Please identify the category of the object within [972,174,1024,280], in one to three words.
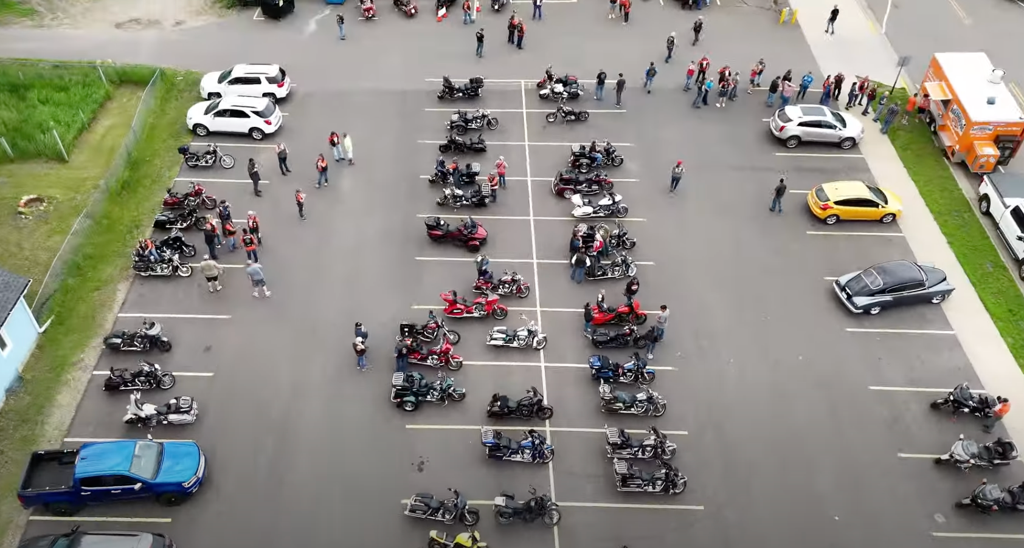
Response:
truck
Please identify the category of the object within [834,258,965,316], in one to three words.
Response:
car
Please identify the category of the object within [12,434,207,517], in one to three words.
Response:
truck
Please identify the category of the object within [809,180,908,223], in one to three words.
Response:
car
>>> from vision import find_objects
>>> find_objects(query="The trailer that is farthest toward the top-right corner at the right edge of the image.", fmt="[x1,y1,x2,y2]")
[917,51,1024,174]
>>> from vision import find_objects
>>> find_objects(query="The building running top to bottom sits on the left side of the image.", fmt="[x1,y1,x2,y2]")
[0,272,58,411]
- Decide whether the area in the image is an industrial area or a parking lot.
parking lot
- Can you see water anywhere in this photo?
No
